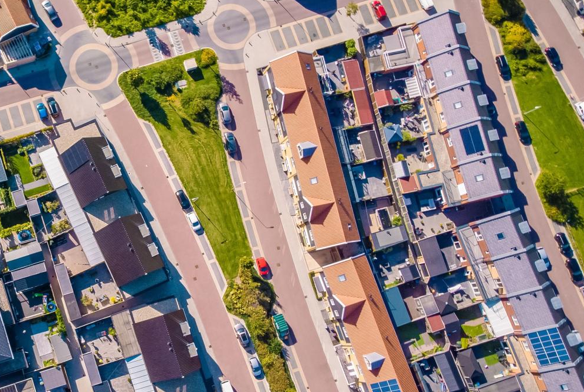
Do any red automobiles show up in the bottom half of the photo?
Yes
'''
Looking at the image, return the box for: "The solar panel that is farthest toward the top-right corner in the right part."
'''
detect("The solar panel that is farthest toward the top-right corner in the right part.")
[460,124,485,155]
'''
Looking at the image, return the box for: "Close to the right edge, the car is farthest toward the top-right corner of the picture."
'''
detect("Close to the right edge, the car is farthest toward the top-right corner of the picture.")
[543,46,563,72]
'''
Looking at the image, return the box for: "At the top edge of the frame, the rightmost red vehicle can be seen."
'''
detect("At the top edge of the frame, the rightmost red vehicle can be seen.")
[368,0,387,23]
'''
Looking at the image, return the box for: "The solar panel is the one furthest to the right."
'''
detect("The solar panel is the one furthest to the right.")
[528,328,570,367]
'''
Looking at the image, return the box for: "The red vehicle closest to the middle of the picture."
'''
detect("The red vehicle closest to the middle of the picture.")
[253,255,271,278]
